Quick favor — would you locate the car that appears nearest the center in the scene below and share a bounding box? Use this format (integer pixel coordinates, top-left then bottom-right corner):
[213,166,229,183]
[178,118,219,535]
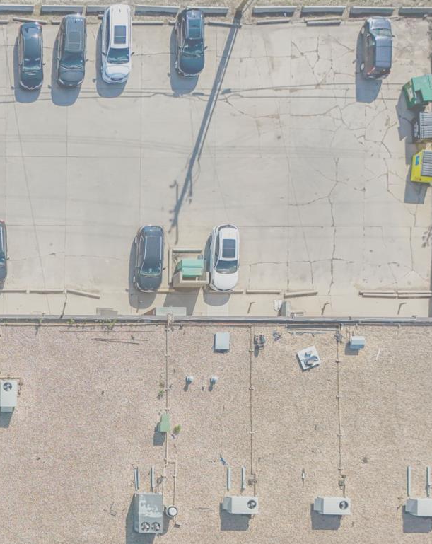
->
[208,224,242,293]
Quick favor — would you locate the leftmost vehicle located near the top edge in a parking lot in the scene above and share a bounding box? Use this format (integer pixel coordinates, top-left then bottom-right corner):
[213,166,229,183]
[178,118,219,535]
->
[15,22,48,93]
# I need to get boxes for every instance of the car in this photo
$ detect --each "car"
[15,22,48,93]
[0,219,11,284]
[357,17,397,82]
[55,14,89,88]
[208,224,242,293]
[101,6,136,85]
[134,226,168,294]
[175,9,209,79]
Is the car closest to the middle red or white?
white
